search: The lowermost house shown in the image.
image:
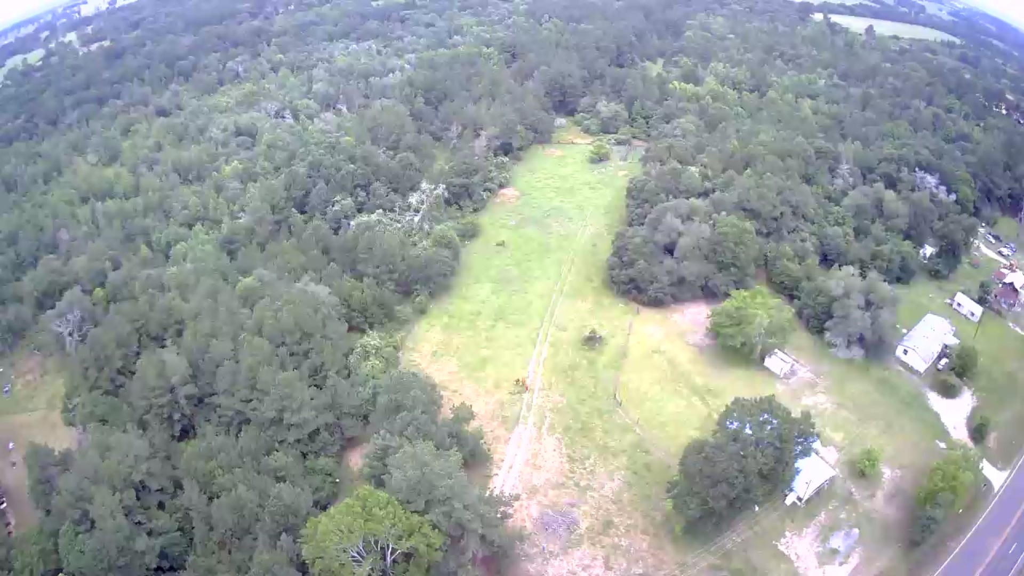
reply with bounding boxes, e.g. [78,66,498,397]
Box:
[773,446,840,512]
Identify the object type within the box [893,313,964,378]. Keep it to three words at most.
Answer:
house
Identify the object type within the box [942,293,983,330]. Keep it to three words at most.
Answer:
house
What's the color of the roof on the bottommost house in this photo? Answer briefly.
white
